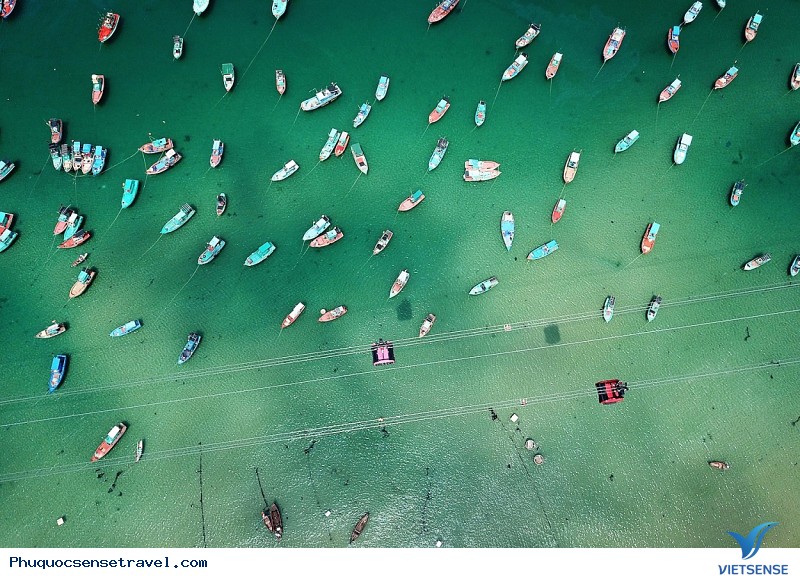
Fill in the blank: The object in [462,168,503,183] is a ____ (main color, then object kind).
white boat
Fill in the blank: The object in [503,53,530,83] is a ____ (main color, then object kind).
white boat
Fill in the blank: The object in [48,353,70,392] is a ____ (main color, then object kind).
blue boat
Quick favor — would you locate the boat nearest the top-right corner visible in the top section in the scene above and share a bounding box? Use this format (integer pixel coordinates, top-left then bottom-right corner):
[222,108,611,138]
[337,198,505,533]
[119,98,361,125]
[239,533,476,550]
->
[745,5,767,43]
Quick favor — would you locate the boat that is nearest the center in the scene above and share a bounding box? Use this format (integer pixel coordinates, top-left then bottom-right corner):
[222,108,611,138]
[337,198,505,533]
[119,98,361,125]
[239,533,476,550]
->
[389,268,413,298]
